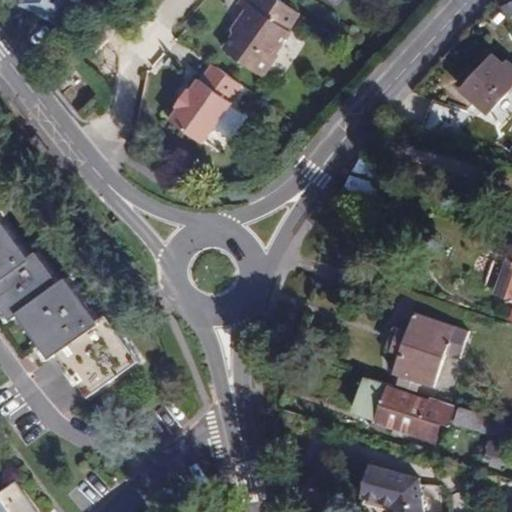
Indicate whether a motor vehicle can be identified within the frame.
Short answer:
Yes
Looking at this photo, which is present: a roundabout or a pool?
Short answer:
roundabout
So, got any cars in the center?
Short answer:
Yes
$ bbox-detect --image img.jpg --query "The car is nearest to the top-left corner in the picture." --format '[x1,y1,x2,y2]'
[29,28,48,46]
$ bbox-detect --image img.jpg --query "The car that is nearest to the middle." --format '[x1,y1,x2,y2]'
[226,238,244,260]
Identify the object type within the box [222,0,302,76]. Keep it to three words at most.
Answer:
house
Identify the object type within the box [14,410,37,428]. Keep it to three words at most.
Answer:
car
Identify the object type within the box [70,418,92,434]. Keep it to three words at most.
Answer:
car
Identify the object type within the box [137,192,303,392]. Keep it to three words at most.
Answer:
roundabout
